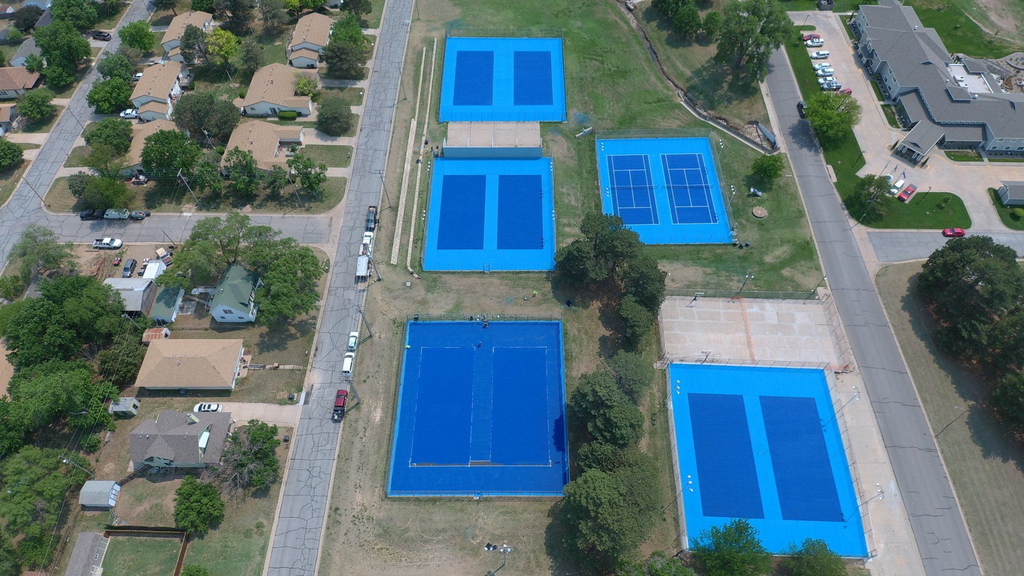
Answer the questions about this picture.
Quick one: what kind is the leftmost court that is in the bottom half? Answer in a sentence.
I'd identify the leftmost court that is in the bottom half as a tennis court.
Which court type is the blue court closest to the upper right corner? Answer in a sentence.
I'd say the blue court closest to the upper right corner is a tennis court.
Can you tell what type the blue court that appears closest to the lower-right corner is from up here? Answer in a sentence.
From above, the blue court that appears closest to the lower-right corner can be identified as a tennis court.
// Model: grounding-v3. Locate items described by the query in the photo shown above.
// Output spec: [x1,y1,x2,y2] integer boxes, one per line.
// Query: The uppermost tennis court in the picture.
[439,37,566,121]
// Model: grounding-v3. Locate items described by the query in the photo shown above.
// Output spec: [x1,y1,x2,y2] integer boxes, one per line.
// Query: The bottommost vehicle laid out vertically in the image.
[332,391,347,419]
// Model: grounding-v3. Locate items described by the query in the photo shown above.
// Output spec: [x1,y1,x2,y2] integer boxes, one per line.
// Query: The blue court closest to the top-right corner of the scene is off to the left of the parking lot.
[597,137,733,244]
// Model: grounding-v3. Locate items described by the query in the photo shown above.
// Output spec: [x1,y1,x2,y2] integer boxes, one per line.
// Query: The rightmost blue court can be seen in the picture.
[667,362,871,559]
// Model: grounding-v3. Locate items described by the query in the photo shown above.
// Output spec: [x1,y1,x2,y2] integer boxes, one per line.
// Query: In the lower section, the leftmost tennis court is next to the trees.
[388,321,571,497]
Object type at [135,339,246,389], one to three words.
house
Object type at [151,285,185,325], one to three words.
shed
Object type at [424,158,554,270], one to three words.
tennis court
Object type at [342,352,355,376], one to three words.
vehicle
